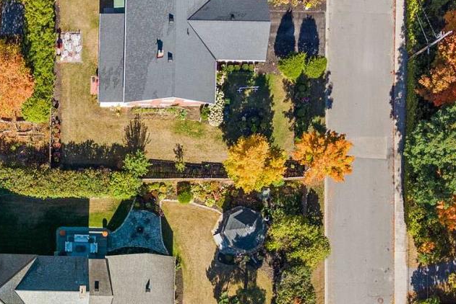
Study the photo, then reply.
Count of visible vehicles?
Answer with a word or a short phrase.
0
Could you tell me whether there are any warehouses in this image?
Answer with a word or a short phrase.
No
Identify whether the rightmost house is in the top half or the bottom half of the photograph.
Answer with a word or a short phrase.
top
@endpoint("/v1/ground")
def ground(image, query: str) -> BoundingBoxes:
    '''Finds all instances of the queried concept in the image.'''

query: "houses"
[0,252,175,304]
[98,0,271,107]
